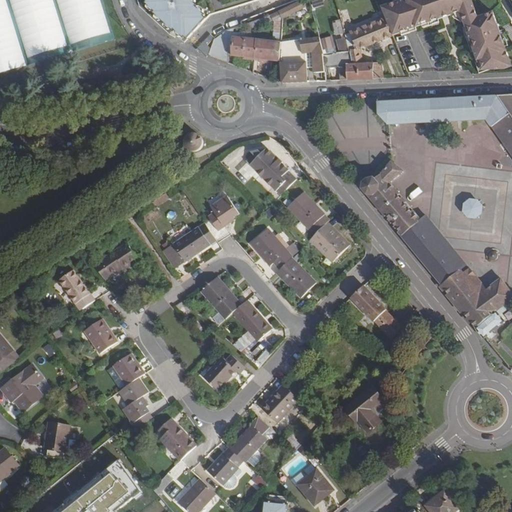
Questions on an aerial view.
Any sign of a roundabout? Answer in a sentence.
Yes, a roundabout is visible in the scene.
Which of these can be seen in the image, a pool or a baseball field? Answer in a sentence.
Looking from above, you can make out a pool.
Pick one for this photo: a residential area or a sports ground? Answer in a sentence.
This image shows a residential area.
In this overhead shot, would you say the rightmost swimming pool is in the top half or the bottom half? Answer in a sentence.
The rightmost swimming pool is in the bottom half of the image.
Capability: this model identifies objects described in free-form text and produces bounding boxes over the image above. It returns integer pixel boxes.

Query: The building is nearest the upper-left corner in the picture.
[0,0,113,76]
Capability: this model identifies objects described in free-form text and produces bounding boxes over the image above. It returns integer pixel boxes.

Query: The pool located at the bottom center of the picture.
[282,452,308,477]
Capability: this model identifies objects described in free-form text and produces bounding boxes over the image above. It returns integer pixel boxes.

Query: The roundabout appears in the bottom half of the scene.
[450,374,512,446]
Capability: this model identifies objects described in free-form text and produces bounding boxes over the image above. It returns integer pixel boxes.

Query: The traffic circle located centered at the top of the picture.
[200,78,253,130]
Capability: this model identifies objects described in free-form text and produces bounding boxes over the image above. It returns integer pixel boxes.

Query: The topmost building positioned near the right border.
[346,0,510,72]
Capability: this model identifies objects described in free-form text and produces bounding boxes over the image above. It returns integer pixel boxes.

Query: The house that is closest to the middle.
[250,227,289,265]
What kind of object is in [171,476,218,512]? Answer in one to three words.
house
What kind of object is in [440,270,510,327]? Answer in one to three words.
building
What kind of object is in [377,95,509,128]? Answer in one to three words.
building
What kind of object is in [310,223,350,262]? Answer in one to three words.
house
